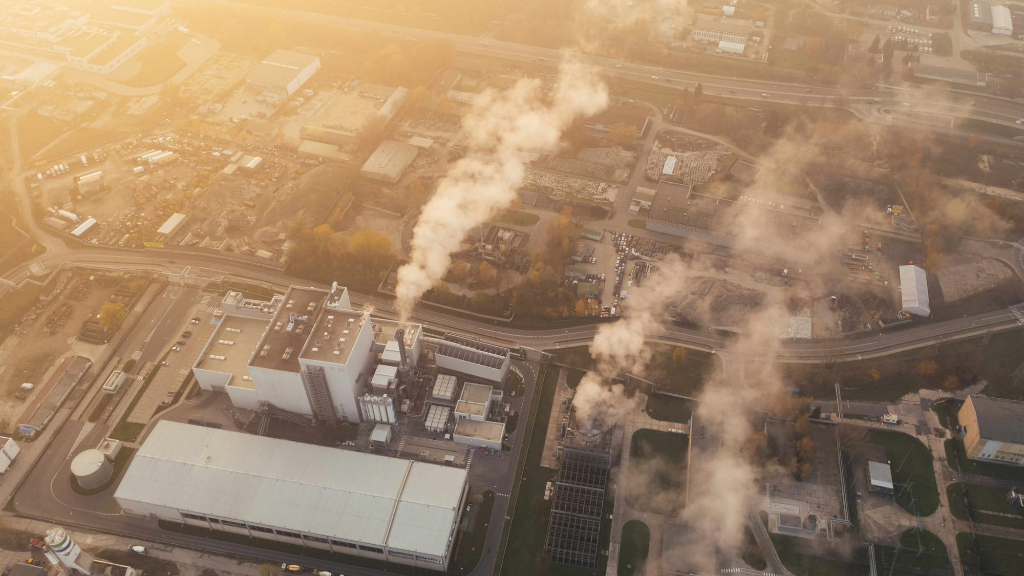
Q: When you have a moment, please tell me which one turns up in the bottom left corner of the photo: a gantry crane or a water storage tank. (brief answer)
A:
water storage tank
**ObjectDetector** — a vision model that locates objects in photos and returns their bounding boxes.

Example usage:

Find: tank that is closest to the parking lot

[71,448,114,489]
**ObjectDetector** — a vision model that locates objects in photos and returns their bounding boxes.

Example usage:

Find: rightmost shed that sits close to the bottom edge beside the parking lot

[113,419,474,572]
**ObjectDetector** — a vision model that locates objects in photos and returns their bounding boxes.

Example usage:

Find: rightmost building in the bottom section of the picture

[959,394,1024,465]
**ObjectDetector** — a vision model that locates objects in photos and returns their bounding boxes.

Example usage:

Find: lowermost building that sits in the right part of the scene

[777,513,802,532]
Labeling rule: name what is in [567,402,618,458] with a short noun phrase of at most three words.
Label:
cooling tower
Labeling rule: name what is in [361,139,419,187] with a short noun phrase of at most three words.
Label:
building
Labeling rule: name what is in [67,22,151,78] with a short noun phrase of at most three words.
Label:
building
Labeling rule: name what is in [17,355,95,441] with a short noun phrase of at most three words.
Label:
barn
